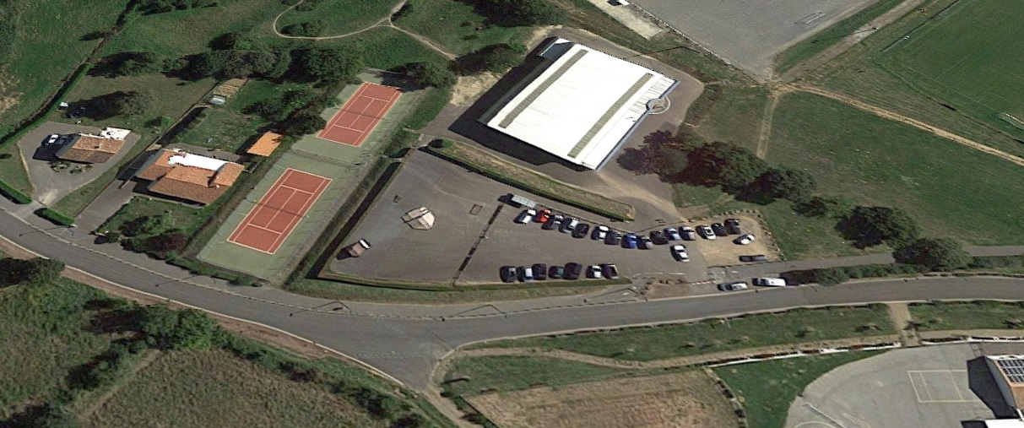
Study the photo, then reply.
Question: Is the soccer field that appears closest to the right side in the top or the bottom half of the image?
top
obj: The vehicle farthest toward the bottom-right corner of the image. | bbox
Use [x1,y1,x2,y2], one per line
[756,275,785,288]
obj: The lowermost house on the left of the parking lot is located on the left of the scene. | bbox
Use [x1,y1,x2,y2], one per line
[134,150,245,207]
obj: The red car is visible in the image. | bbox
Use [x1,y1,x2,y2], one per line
[538,206,552,224]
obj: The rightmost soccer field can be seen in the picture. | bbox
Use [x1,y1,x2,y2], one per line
[880,0,1024,124]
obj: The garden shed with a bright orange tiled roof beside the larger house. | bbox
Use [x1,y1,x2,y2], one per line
[247,133,284,160]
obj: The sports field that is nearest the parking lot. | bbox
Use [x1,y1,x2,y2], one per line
[670,87,1024,260]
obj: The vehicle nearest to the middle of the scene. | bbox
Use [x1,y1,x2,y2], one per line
[519,206,536,223]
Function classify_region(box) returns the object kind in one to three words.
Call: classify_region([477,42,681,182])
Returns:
building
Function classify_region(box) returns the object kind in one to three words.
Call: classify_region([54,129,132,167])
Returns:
house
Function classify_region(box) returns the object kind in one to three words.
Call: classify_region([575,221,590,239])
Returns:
car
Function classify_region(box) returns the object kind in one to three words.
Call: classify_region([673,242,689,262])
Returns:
car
